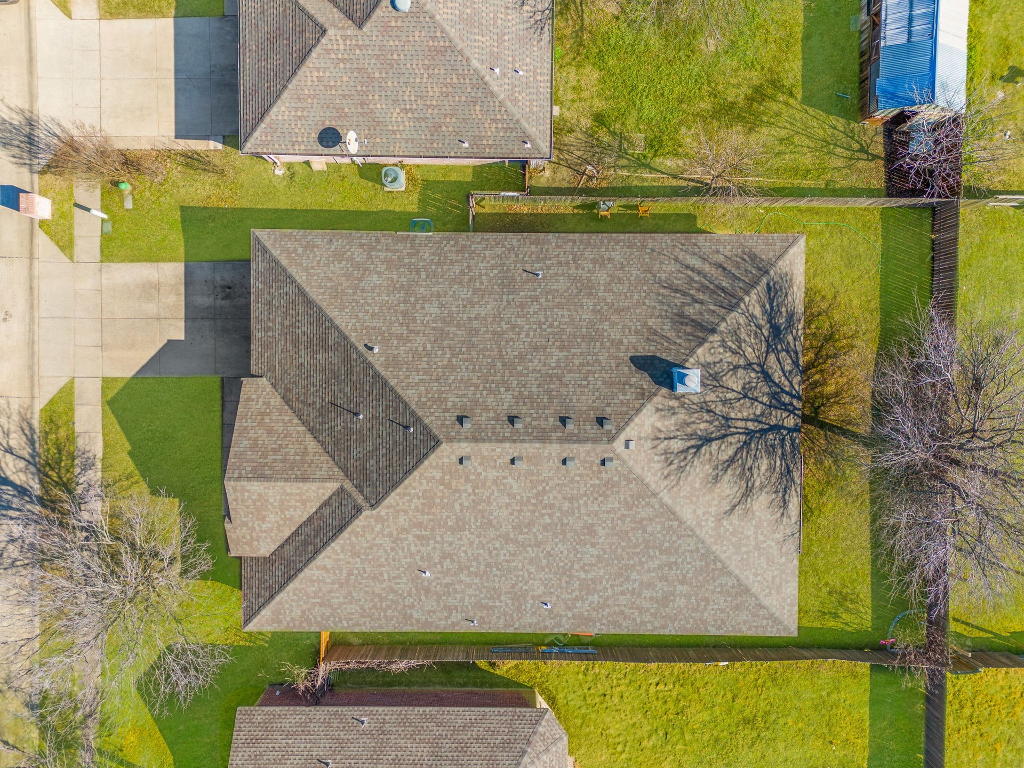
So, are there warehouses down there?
No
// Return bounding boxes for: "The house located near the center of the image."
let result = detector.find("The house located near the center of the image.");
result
[220,228,806,638]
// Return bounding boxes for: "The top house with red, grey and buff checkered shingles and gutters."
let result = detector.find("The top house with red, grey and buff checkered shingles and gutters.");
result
[234,0,559,169]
